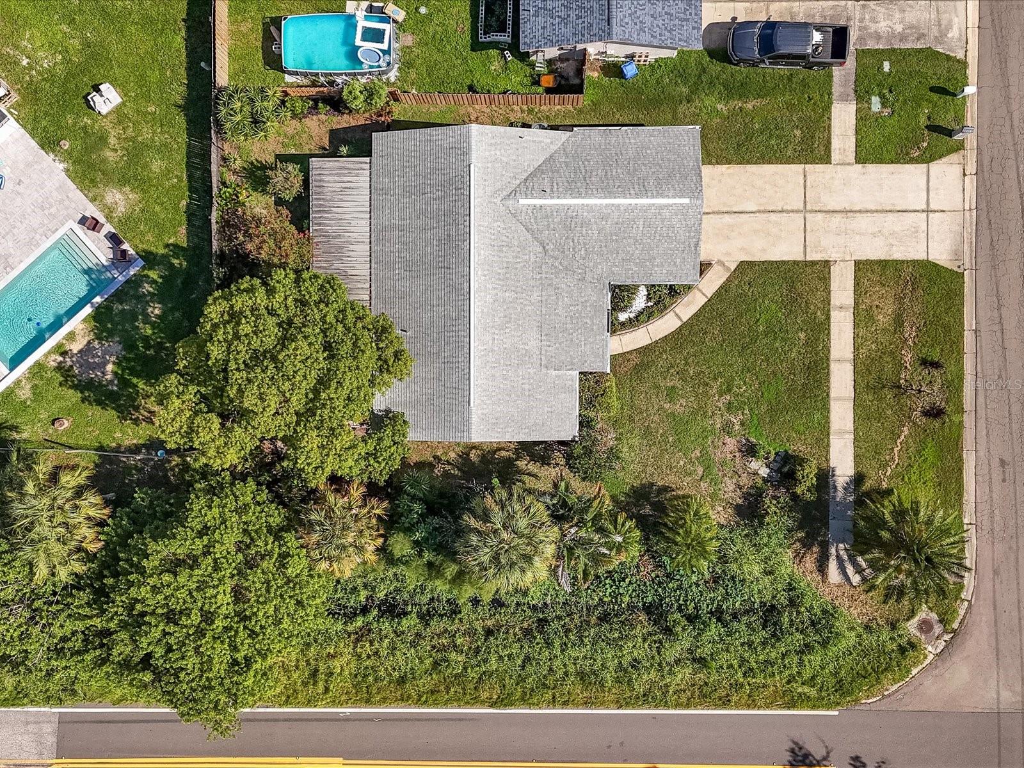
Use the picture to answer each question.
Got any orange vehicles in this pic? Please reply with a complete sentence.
No, no orange vehicle is visible in the scene.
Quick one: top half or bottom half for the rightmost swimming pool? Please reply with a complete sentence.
The rightmost swimming pool is in the top half of the image.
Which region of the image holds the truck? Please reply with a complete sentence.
Look in the top right portion of the view to spot the truck.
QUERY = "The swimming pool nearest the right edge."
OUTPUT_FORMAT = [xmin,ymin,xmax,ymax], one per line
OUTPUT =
[282,11,403,89]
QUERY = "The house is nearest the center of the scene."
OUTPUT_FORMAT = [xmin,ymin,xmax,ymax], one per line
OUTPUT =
[371,122,705,444]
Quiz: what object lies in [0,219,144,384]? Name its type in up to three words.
swimming pool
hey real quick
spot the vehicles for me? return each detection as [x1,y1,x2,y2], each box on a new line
[726,15,853,72]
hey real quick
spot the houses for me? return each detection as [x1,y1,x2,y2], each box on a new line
[519,0,703,59]
[371,122,705,444]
